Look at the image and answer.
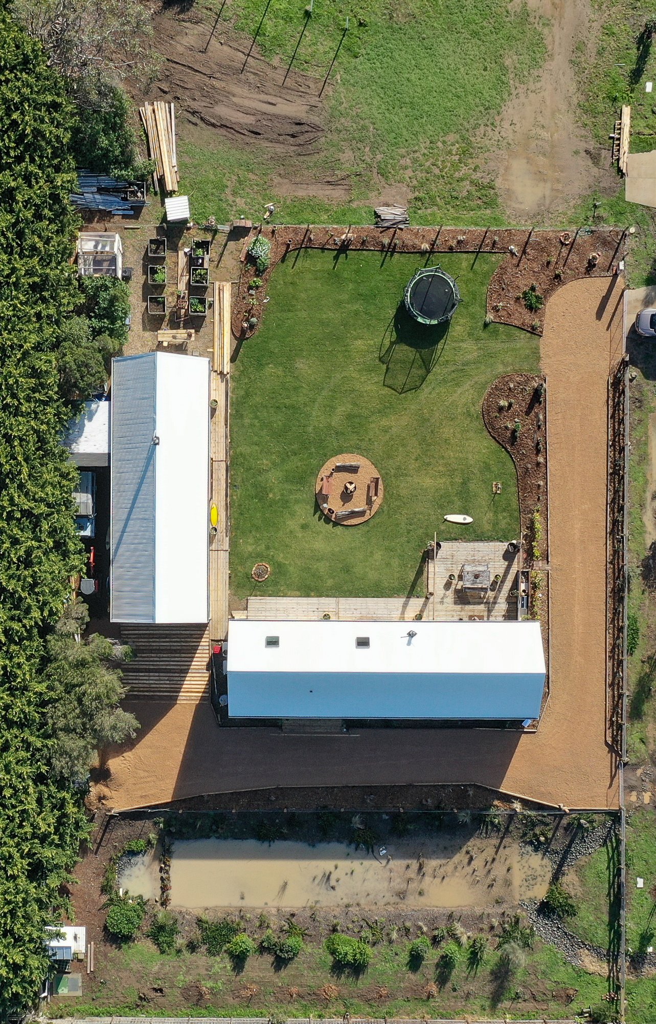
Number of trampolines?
1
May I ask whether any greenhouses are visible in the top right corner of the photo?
No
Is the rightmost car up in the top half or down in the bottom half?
top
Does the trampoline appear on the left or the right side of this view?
right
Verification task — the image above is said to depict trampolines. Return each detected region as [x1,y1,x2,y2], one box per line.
[404,264,460,328]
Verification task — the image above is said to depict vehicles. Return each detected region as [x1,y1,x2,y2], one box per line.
[632,308,656,339]
[78,550,102,591]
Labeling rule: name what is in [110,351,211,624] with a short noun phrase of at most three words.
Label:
shed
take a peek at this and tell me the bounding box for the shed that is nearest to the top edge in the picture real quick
[165,197,189,223]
